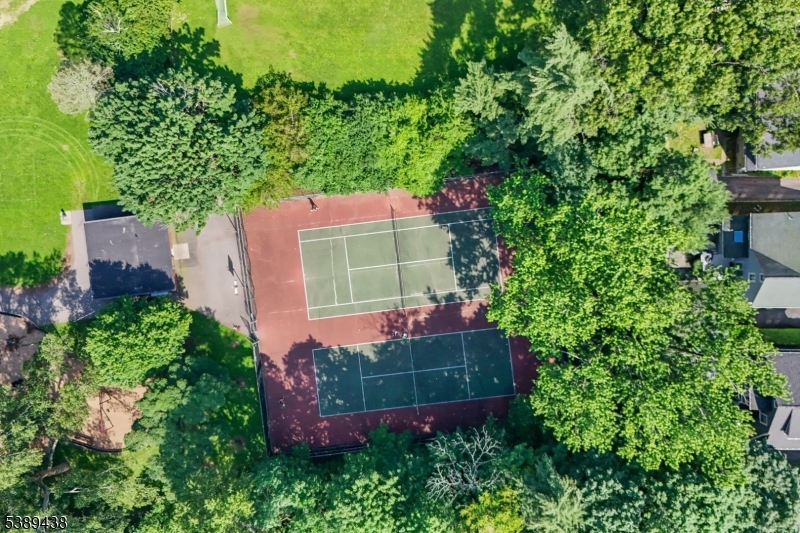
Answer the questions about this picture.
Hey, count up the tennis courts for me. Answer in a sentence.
Altogether the scene contains 2 tennis courts.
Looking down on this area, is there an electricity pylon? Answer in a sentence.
No, no electricity pylon can be seen from above.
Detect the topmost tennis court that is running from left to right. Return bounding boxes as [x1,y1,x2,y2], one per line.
[244,175,553,341]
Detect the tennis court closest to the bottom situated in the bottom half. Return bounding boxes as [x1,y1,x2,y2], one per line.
[259,307,566,453]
